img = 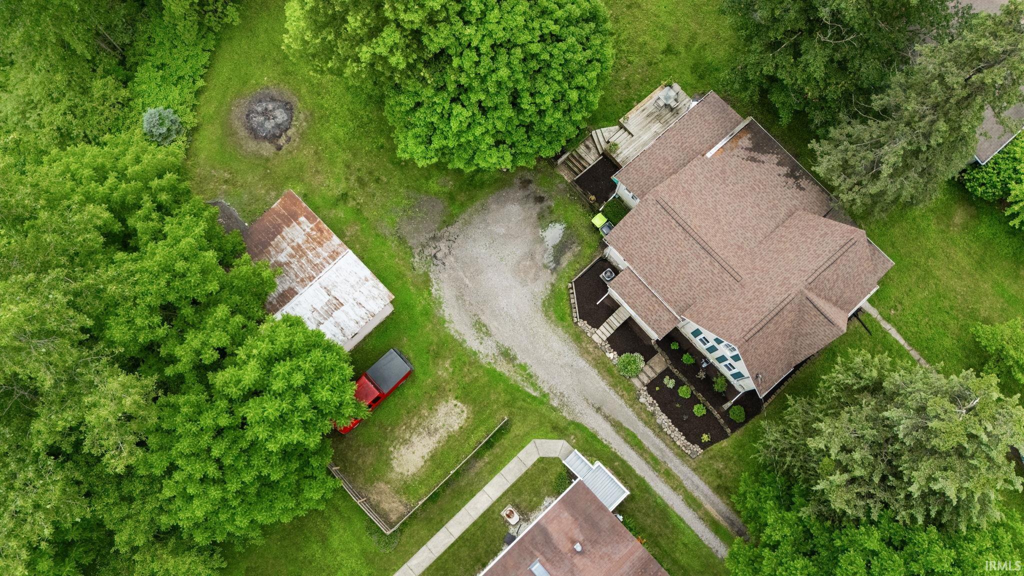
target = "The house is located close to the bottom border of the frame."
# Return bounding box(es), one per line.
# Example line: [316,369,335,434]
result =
[481,478,670,576]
